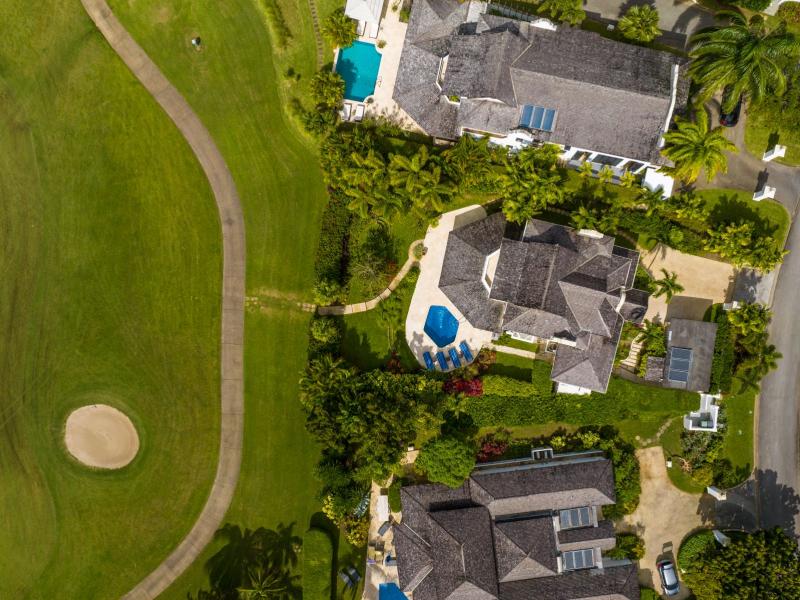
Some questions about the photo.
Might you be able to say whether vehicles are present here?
Yes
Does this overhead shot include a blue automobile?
No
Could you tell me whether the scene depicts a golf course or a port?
golf course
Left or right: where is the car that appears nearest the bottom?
right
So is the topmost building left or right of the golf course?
right of it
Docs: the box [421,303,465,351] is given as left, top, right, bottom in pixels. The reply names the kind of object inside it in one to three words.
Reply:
swimming pool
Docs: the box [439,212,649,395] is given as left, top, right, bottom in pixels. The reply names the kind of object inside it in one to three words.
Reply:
house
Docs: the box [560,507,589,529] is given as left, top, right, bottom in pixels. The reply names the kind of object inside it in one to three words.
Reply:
solar panel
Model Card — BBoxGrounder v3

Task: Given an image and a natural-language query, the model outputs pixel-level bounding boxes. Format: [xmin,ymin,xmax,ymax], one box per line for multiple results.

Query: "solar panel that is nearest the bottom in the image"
[563,551,594,570]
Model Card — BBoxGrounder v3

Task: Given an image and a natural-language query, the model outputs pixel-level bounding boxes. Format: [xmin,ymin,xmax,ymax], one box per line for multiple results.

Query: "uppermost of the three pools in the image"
[332,38,384,103]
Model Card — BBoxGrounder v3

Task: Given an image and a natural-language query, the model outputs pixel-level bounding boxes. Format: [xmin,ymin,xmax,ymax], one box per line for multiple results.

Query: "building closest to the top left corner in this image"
[345,0,384,37]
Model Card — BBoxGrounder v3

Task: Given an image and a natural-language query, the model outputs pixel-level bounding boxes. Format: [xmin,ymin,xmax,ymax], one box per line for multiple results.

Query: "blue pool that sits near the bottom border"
[375,580,412,600]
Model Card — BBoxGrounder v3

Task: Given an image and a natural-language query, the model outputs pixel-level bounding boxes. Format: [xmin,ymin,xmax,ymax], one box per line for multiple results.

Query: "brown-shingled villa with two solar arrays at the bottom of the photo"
[393,459,641,600]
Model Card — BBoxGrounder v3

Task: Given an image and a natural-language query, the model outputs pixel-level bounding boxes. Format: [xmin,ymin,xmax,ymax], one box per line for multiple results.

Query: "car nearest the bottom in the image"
[655,559,680,597]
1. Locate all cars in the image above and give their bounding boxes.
[720,89,741,124]
[655,559,680,597]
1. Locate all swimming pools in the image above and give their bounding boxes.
[421,303,465,351]
[332,38,384,103]
[375,580,412,600]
